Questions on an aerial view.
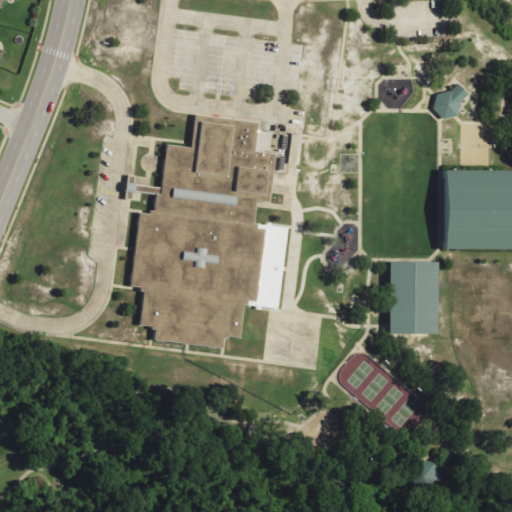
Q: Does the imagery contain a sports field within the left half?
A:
No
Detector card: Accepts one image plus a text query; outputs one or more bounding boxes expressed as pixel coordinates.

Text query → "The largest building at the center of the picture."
[126,115,277,348]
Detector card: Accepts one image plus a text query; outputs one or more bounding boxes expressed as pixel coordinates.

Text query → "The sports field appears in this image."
[364,114,438,258]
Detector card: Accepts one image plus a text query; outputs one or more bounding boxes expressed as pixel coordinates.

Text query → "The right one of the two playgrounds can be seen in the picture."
[378,80,414,108]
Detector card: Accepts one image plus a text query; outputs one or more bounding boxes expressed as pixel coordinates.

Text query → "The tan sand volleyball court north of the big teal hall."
[460,122,496,166]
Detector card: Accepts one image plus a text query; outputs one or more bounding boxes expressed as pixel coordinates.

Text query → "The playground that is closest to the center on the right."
[326,224,358,266]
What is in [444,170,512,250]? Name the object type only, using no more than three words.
building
